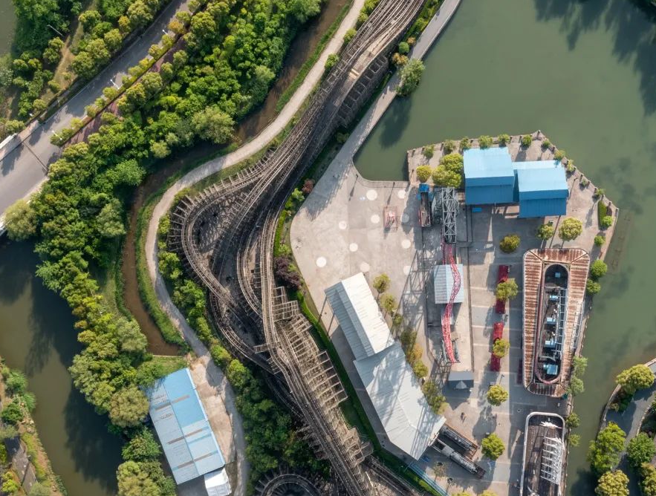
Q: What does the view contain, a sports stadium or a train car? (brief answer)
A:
train car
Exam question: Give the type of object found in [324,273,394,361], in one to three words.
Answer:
building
